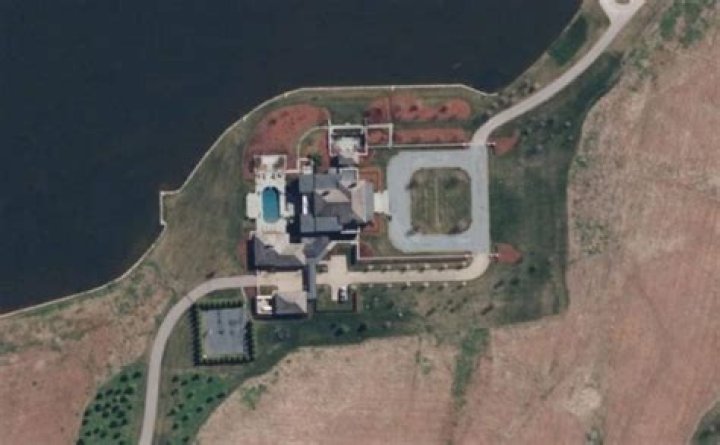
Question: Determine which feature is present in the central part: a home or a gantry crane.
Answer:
home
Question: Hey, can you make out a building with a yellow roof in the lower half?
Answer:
No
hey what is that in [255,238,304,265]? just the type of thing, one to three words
building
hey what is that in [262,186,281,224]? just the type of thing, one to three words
swimming pool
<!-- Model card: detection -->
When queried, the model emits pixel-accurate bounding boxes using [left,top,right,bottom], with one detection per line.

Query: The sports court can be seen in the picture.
[203,307,247,359]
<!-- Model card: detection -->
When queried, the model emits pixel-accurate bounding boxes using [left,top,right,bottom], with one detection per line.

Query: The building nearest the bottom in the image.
[276,292,307,314]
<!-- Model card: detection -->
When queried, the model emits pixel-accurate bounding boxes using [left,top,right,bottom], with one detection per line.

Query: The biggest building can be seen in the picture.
[298,168,374,233]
